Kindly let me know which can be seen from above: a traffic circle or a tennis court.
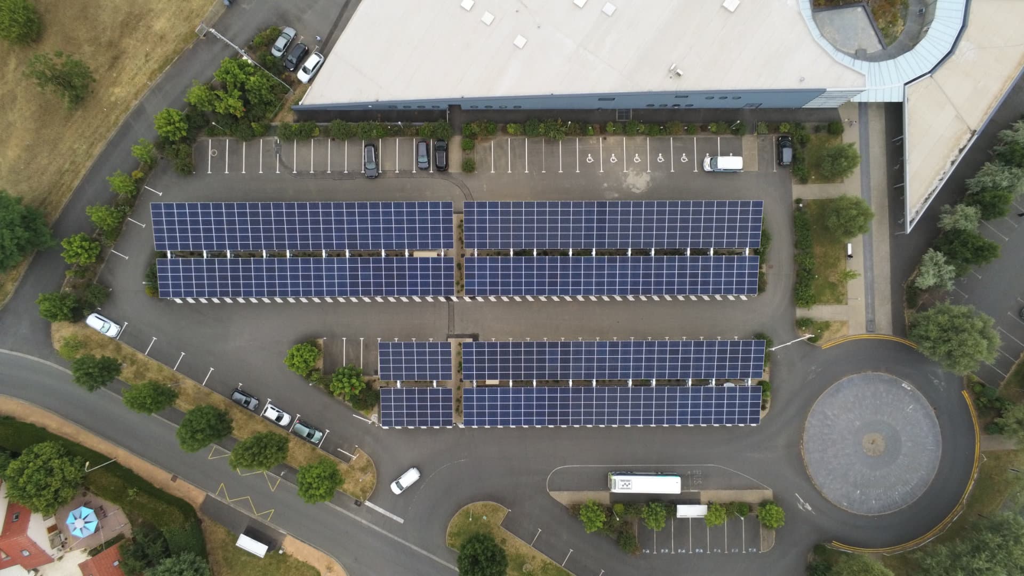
traffic circle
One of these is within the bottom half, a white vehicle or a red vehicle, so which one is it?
white vehicle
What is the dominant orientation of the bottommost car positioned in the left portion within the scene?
on a diagonal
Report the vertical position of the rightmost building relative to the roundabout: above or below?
above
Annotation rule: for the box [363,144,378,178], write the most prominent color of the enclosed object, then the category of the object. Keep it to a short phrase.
gray car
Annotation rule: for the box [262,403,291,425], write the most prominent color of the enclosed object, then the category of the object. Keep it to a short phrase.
white car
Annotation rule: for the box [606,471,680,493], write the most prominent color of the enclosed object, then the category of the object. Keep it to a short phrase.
white bus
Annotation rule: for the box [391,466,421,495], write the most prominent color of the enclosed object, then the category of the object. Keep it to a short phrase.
white car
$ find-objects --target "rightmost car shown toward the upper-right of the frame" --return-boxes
[777,136,794,166]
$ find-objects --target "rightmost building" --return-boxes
[893,0,1024,235]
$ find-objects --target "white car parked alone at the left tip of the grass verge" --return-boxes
[86,312,121,337]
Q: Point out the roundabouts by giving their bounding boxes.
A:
[804,374,943,513]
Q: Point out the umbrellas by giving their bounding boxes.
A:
[68,505,98,536]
